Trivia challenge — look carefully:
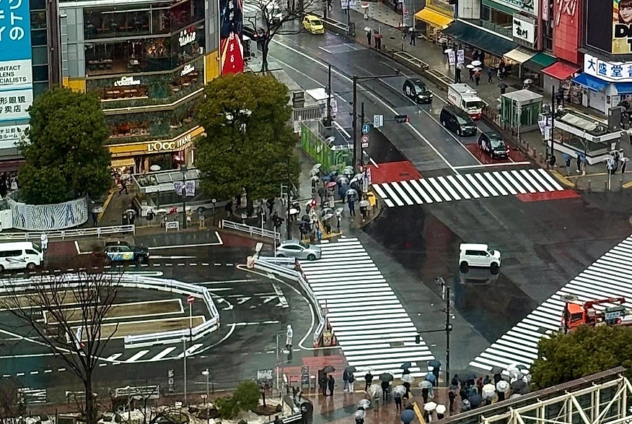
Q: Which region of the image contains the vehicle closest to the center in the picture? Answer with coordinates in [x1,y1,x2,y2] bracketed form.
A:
[272,237,327,260]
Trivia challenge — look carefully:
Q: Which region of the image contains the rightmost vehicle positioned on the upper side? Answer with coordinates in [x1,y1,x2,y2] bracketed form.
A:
[475,129,514,157]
